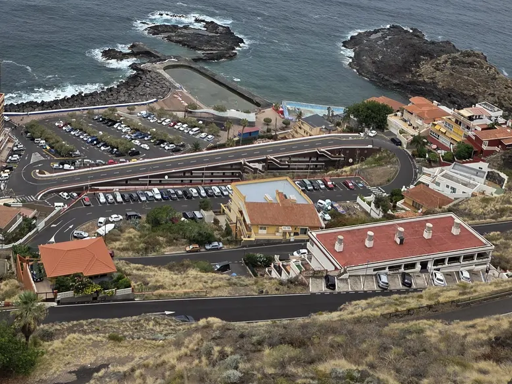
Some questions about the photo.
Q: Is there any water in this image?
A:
Yes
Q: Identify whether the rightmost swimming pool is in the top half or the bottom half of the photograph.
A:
top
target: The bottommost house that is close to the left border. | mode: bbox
[18,236,134,299]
